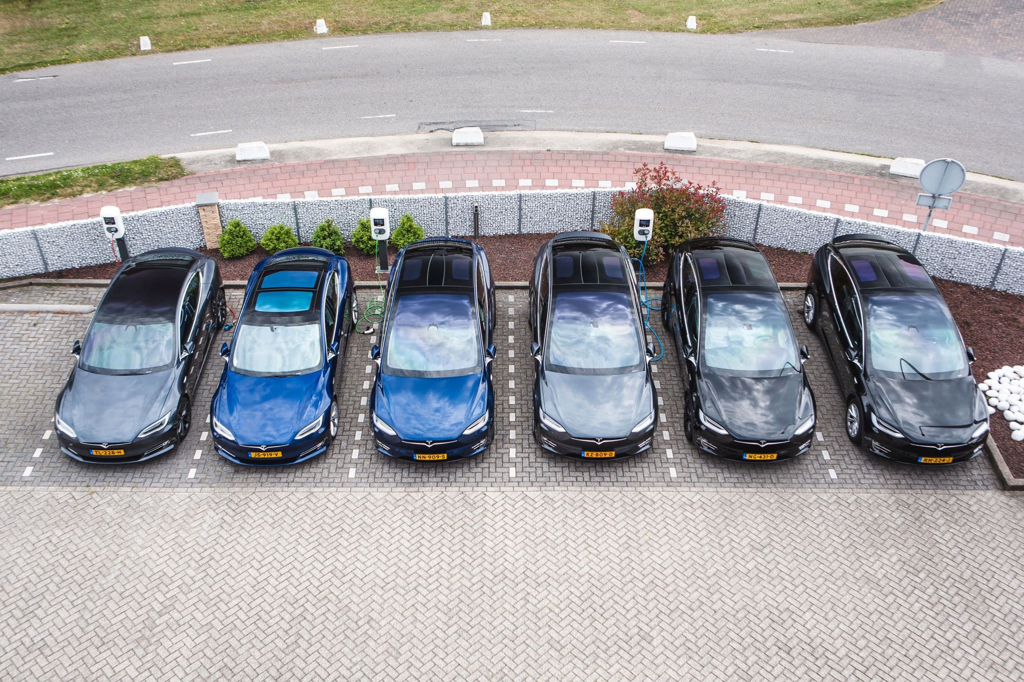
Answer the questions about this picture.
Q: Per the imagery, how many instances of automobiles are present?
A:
6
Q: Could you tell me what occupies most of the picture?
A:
paved ground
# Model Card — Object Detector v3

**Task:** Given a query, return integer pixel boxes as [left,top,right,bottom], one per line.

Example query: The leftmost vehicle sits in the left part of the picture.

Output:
[56,245,227,467]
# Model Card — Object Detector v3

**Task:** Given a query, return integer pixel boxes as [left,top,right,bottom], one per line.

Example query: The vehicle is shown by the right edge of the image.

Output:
[806,232,983,466]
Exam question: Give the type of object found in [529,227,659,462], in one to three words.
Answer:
car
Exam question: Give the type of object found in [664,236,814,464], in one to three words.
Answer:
car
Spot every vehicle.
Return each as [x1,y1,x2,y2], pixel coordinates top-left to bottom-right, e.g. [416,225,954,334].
[368,235,499,465]
[806,232,983,466]
[56,245,227,467]
[213,246,358,468]
[529,227,659,462]
[664,236,814,464]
